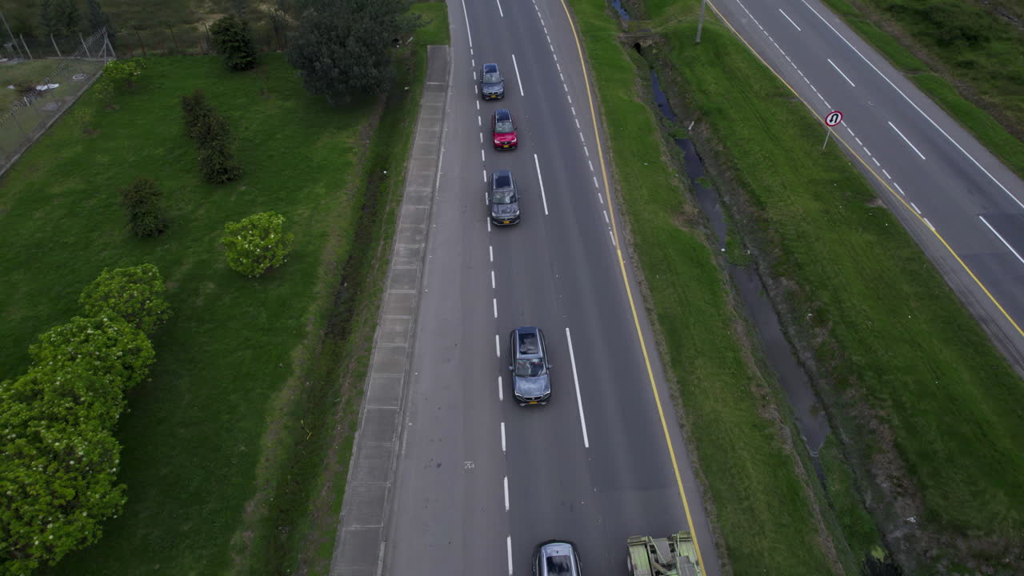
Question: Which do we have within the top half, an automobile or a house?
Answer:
automobile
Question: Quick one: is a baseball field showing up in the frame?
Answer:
No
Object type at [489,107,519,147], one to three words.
car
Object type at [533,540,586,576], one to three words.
car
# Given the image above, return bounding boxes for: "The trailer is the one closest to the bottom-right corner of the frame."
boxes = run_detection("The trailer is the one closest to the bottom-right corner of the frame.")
[627,531,708,576]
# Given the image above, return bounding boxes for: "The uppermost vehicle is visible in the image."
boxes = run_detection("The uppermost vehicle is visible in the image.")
[479,62,506,97]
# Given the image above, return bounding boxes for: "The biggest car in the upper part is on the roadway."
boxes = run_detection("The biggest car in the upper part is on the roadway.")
[487,170,523,223]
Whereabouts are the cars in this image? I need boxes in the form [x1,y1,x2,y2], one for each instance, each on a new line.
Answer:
[489,107,519,147]
[479,62,506,97]
[487,170,523,223]
[507,325,555,403]
[533,540,586,576]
